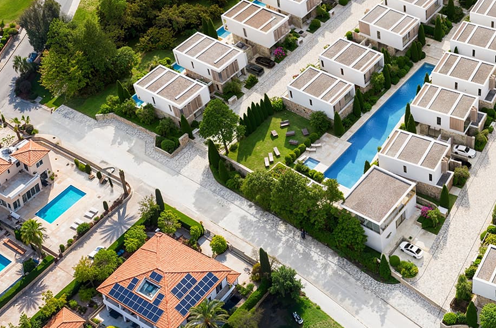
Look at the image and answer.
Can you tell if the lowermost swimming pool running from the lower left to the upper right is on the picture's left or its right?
left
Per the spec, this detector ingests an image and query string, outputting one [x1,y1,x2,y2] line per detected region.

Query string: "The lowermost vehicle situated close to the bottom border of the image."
[290,309,304,325]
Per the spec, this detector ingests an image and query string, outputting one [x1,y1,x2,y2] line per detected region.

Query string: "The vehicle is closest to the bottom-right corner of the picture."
[399,240,424,257]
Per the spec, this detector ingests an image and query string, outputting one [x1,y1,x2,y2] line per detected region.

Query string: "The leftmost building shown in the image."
[0,139,58,210]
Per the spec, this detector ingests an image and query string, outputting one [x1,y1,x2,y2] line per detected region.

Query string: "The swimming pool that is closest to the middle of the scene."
[301,154,323,169]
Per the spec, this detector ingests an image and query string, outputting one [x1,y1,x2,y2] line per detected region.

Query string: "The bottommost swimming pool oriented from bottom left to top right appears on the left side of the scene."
[32,184,91,226]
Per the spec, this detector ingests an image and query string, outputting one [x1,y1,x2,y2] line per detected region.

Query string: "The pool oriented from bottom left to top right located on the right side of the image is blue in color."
[323,61,436,189]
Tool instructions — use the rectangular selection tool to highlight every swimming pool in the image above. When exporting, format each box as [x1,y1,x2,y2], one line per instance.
[0,252,19,291]
[323,61,436,189]
[170,61,188,74]
[212,27,233,39]
[301,154,323,169]
[32,184,91,226]
[127,91,145,108]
